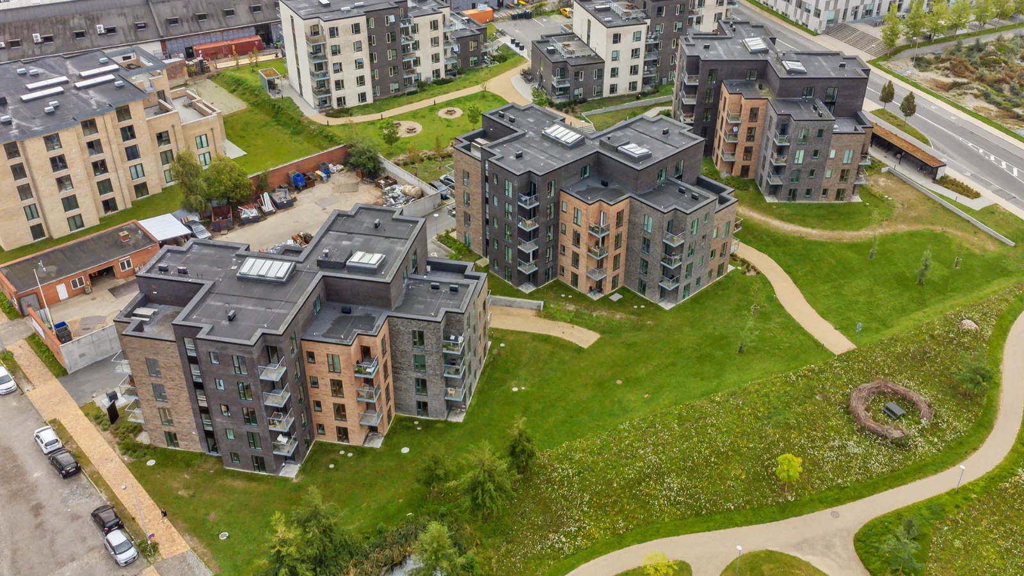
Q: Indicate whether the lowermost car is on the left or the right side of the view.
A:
left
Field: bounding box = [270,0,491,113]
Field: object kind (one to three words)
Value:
building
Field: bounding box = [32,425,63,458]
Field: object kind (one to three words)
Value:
car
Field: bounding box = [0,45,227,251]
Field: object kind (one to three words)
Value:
building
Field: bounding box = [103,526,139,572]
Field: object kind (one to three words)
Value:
car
